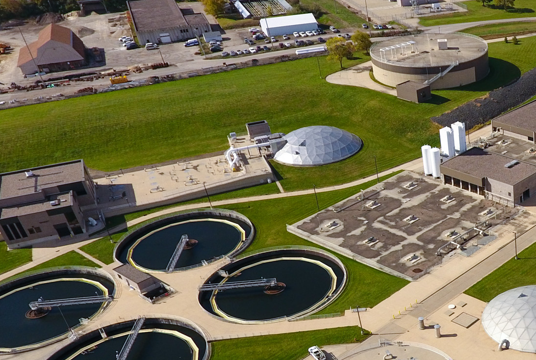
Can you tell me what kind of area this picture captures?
industrial area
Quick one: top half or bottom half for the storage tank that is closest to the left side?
bottom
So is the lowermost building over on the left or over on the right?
left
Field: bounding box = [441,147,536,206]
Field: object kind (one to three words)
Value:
building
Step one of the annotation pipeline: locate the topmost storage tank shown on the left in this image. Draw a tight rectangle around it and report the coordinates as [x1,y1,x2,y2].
[112,208,253,276]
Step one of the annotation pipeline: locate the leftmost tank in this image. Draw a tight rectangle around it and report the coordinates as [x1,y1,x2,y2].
[0,266,120,358]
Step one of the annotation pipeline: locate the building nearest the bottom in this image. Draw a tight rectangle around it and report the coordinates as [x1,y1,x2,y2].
[113,263,174,304]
